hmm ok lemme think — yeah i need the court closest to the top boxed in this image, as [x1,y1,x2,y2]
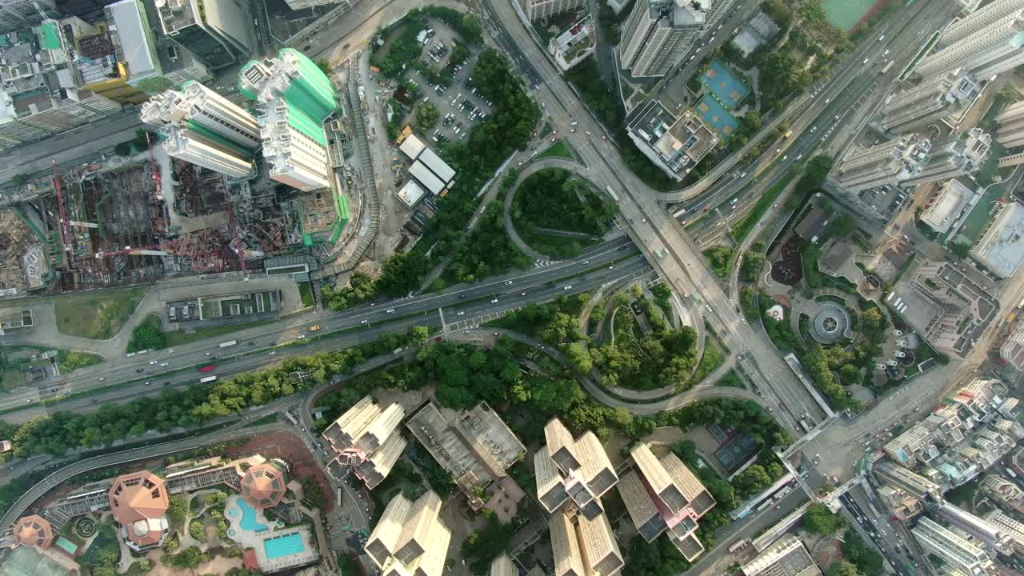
[700,59,751,109]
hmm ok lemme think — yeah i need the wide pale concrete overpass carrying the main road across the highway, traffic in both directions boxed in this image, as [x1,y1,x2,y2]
[577,134,706,290]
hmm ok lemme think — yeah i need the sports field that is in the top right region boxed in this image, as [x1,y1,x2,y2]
[819,0,884,34]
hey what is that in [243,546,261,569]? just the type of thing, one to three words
shed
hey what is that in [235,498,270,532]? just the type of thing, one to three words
swimming pool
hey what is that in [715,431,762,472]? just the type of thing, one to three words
basketball court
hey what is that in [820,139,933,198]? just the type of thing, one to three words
building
